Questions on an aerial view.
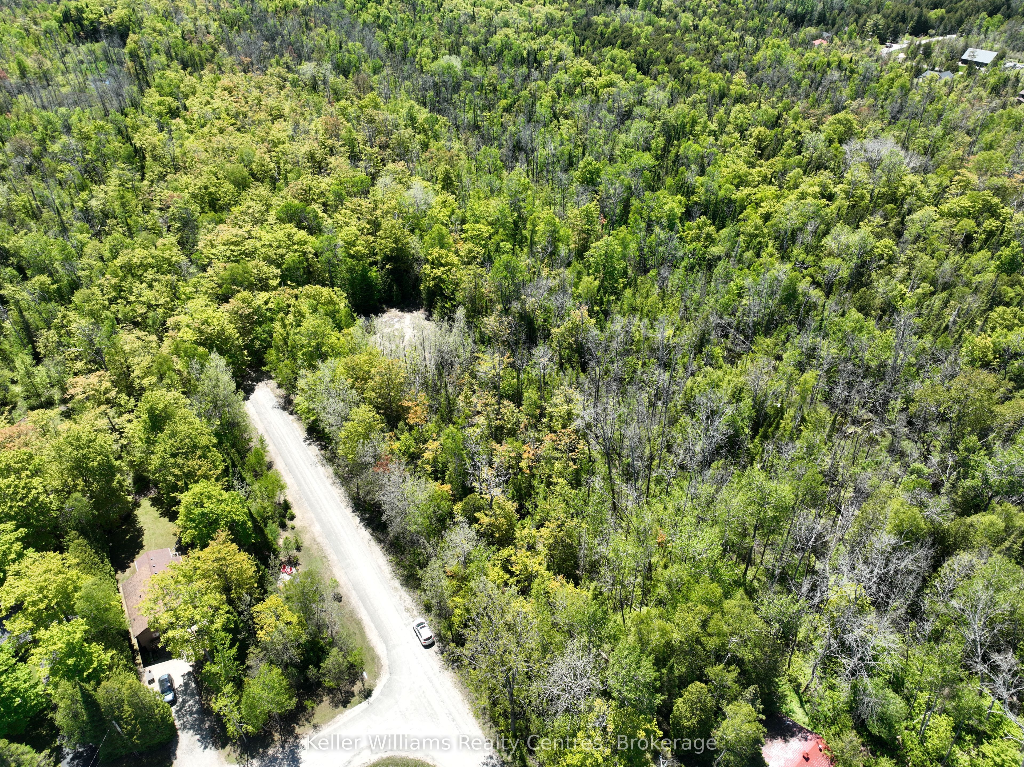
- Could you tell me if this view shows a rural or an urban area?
rural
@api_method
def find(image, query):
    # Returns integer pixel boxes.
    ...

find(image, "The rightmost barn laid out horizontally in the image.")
[960,47,1013,70]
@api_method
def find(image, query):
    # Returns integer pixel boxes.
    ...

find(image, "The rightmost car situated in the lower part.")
[414,617,436,650]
